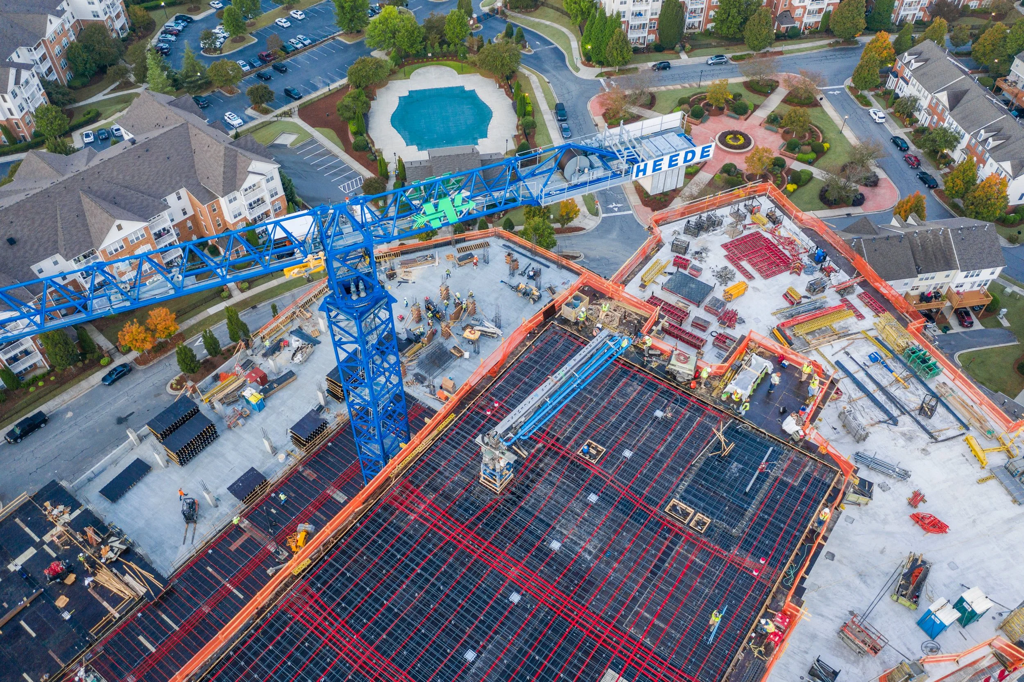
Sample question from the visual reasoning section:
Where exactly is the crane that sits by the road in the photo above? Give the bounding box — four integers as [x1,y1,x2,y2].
[0,106,716,484]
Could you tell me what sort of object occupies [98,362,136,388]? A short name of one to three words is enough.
car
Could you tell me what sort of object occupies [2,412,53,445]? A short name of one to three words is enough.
truck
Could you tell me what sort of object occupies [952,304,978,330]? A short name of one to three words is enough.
car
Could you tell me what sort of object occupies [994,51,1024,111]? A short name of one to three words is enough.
house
